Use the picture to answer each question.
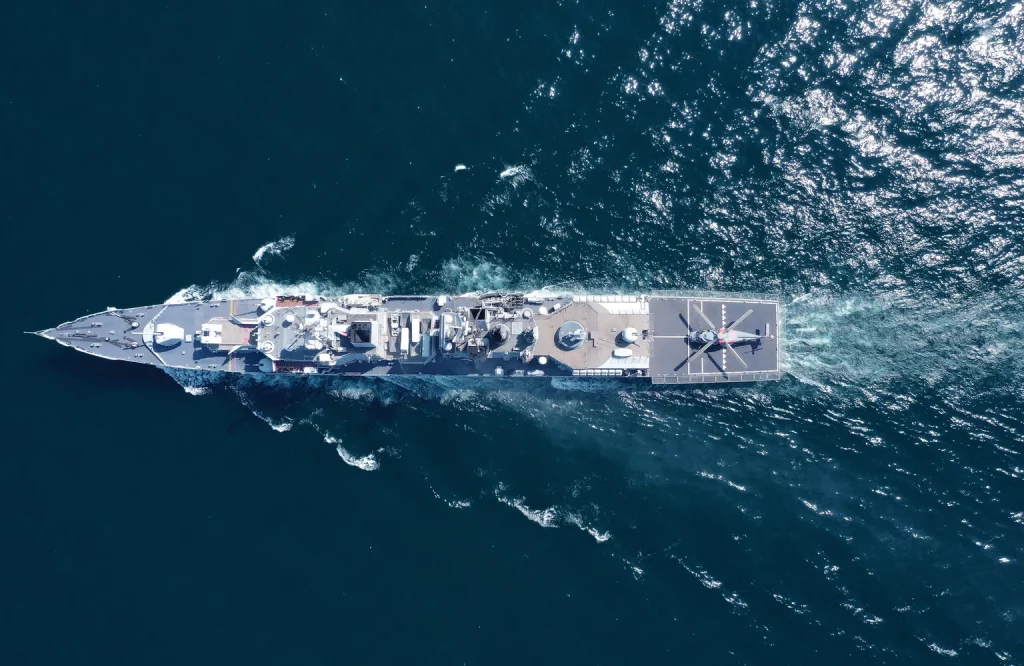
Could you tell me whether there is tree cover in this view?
No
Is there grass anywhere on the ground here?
No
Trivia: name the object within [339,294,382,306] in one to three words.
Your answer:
boat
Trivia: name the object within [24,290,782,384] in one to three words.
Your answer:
ship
